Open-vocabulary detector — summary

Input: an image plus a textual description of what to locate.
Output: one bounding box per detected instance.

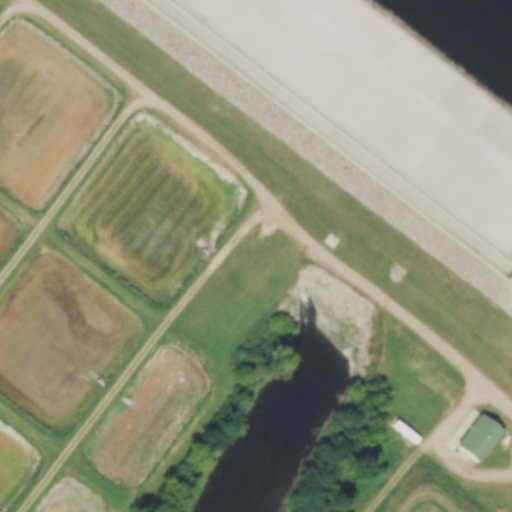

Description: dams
[39,0,512,360]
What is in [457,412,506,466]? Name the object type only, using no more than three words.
building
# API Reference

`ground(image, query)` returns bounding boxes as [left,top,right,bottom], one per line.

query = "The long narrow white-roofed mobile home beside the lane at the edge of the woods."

[393,420,424,446]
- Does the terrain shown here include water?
Yes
